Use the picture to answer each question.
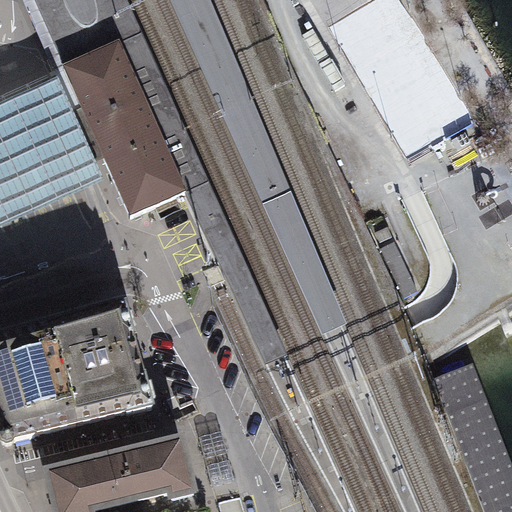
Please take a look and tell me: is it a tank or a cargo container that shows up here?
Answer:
cargo container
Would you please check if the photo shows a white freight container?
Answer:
Yes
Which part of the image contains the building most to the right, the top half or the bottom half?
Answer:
bottom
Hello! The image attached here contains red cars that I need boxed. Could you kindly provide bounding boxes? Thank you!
[152,339,173,350]
[218,348,231,370]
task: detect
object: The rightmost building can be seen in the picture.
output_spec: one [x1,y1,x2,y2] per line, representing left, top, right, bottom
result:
[434,364,512,512]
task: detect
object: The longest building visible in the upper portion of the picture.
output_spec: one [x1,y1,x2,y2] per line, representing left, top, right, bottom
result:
[60,40,188,220]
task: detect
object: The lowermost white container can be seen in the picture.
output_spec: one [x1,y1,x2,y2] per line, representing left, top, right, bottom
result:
[319,58,345,94]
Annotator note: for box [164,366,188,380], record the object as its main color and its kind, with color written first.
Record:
black vehicle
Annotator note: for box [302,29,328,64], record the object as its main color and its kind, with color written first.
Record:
white shipping container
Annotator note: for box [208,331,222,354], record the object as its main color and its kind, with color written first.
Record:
black car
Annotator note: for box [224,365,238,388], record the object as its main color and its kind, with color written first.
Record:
black vehicle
